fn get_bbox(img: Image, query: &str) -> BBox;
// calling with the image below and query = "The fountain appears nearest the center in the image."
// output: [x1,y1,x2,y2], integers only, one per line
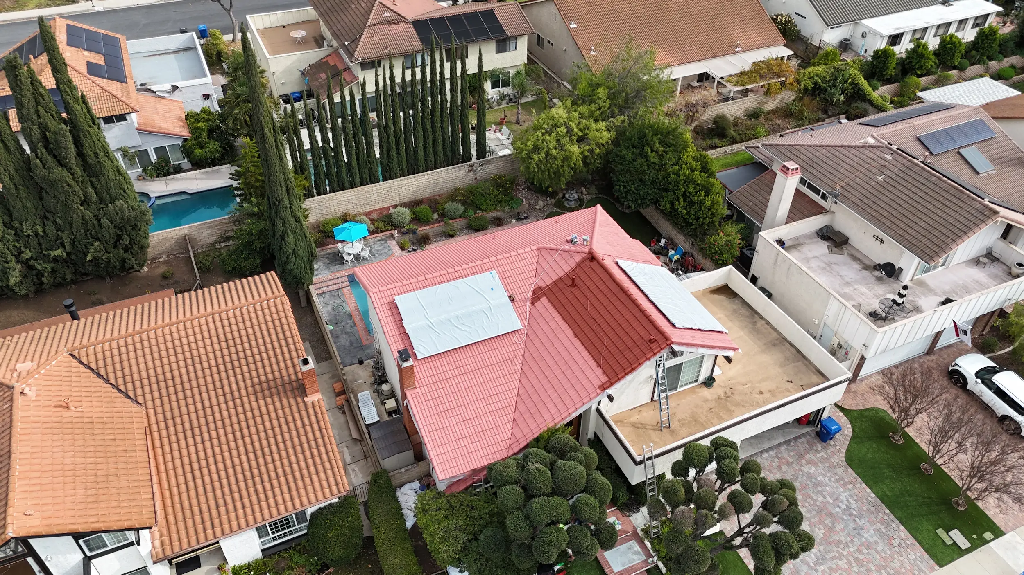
[559,191,582,211]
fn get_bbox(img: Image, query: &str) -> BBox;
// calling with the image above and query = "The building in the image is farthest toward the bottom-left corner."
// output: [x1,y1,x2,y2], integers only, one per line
[0,269,349,575]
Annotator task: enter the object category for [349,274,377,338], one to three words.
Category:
swimming pool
